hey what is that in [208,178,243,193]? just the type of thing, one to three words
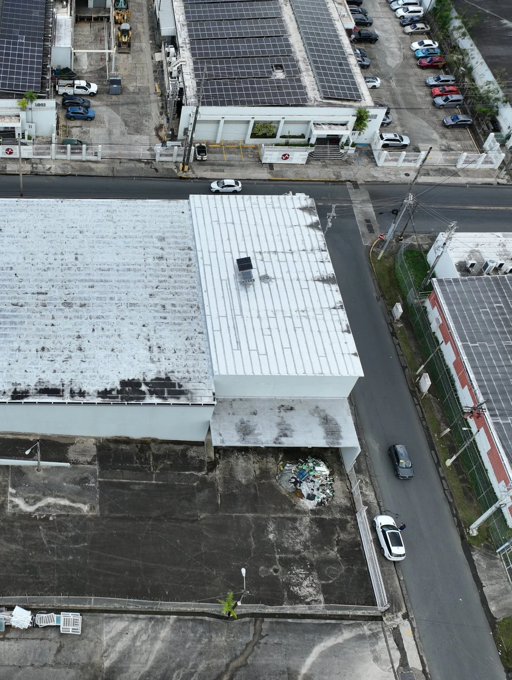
car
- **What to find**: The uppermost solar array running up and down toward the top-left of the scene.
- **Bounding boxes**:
[0,0,45,92]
